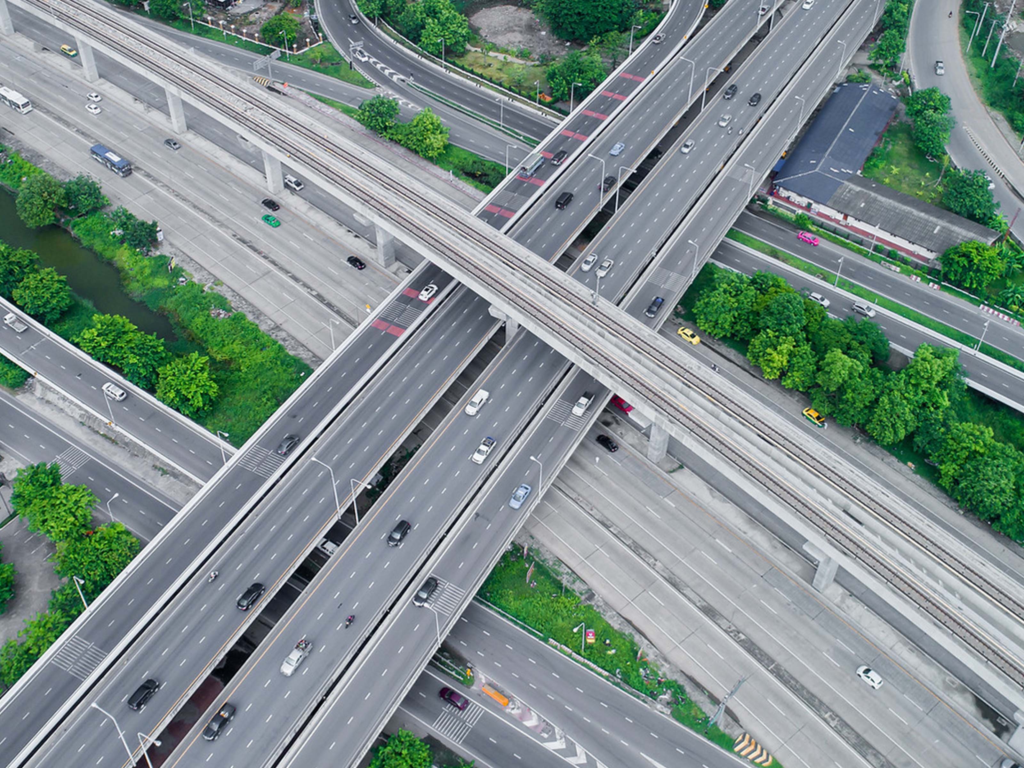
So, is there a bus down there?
Yes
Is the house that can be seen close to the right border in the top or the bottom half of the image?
top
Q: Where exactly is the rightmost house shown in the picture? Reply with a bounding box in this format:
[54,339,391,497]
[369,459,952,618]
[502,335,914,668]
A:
[770,84,1019,272]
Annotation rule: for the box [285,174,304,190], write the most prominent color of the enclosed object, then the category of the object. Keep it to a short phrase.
white vehicle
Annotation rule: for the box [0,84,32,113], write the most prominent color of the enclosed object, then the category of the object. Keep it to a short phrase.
white bus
